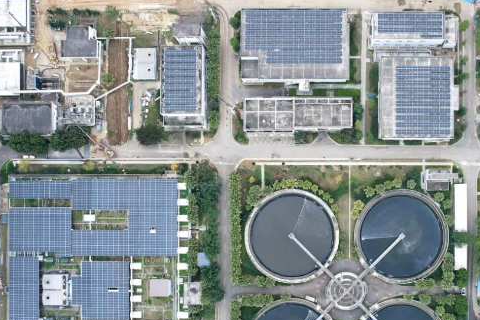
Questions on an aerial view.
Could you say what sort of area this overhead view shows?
industrial area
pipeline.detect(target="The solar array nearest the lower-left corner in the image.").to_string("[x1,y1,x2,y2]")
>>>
[9,257,38,320]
